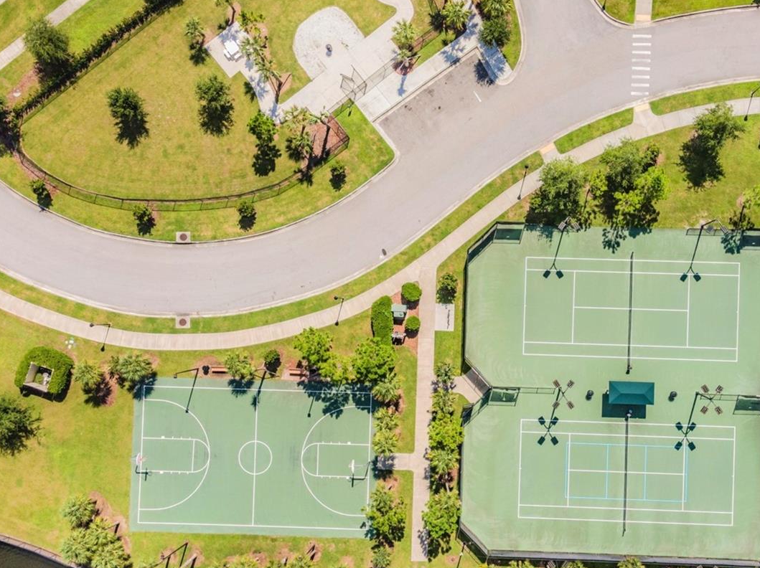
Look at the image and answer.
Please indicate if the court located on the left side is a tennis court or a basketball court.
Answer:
basketball court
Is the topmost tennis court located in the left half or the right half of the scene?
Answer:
right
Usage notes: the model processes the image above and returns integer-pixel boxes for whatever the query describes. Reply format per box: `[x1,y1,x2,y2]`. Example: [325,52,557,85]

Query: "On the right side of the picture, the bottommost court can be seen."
[461,390,760,561]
